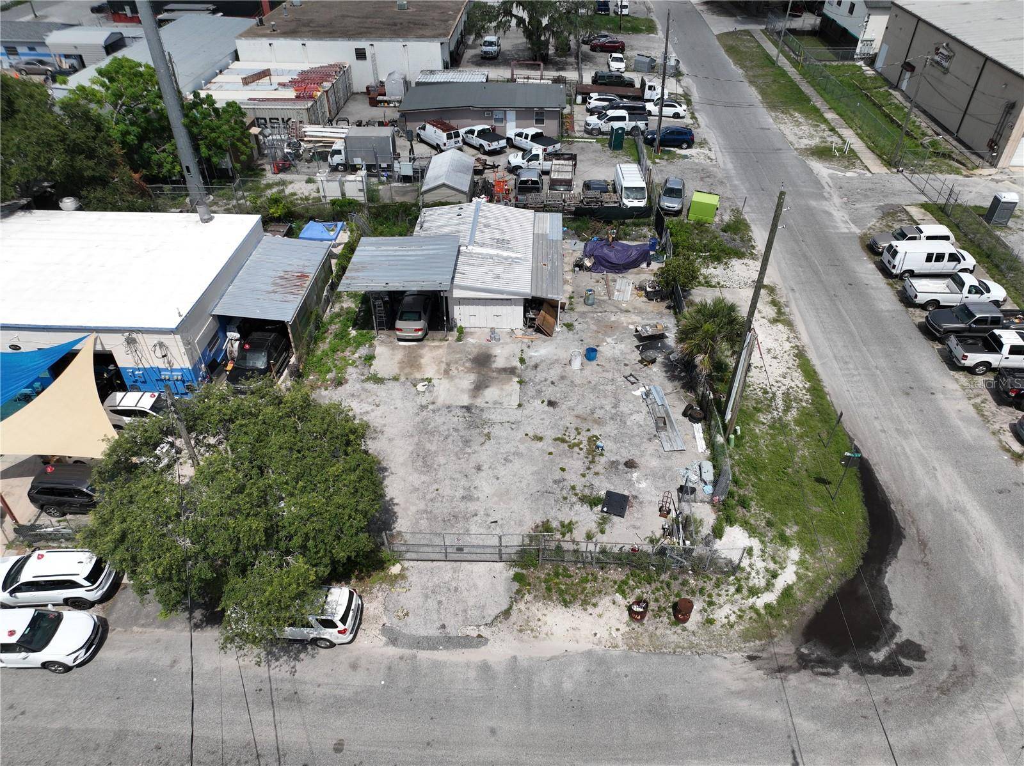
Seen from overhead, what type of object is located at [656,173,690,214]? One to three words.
car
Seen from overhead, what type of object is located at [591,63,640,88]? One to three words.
car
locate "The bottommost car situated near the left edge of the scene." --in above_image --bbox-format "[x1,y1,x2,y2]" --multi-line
[0,599,107,672]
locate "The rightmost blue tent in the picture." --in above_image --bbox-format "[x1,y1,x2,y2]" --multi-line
[300,222,346,248]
